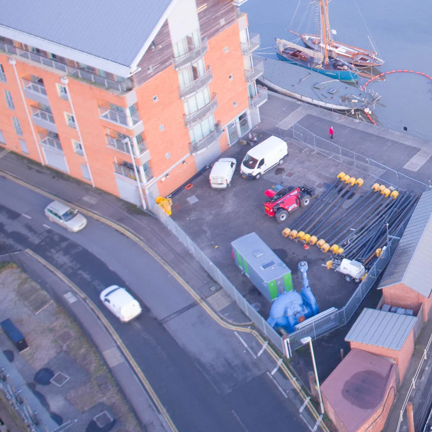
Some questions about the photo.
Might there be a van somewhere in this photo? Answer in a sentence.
Yes, the photo shows a van.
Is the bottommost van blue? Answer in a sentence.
No, the bottommost van is actually white.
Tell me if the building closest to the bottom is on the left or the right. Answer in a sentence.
The building closest to the bottom is on the right side of the image.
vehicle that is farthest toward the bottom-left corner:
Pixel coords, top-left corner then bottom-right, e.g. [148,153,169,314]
[101,286,136,317]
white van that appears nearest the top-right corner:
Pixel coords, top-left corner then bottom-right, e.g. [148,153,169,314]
[245,136,286,176]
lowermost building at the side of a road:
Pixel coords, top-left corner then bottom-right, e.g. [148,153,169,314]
[321,349,399,432]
